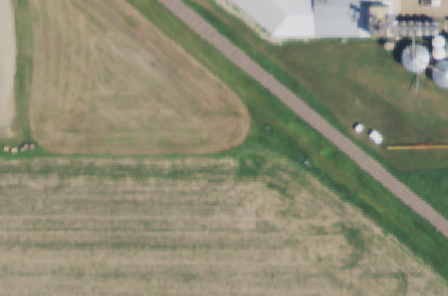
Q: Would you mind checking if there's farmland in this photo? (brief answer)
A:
Yes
